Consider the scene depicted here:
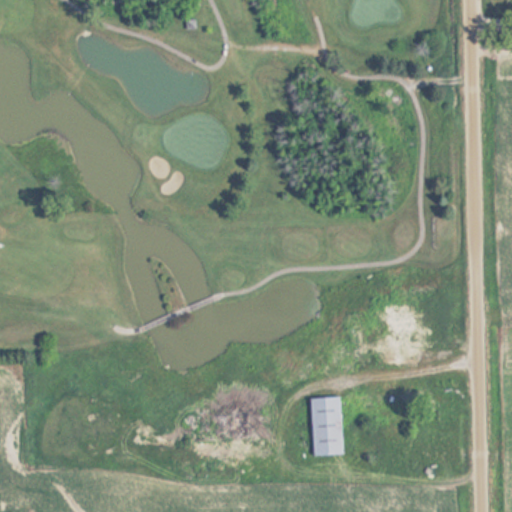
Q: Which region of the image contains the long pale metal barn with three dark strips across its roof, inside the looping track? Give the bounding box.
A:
[311,396,344,458]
